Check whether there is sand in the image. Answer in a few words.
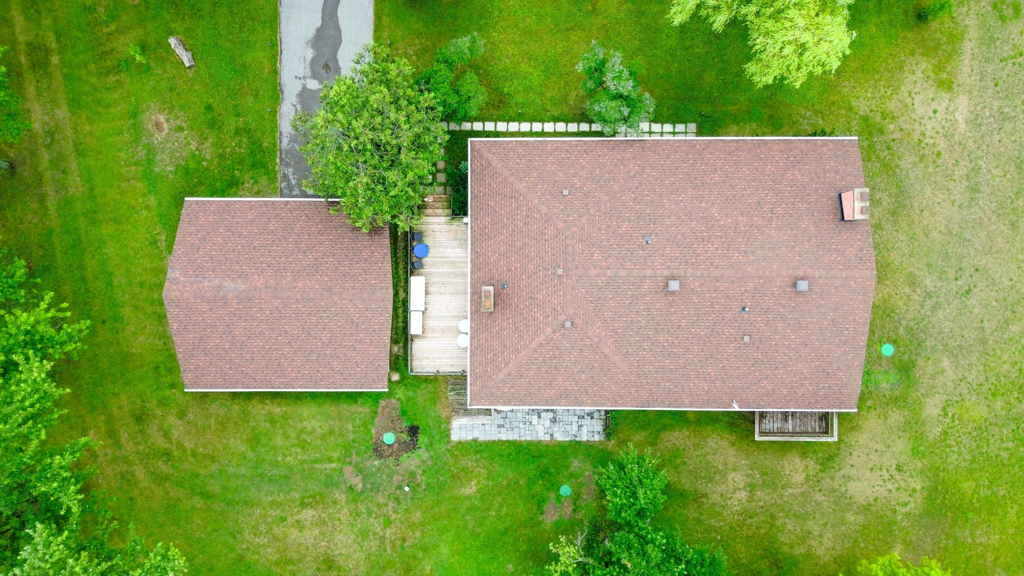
No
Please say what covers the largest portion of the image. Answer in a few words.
grass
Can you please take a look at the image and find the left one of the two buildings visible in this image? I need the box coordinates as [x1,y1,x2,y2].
[162,198,394,391]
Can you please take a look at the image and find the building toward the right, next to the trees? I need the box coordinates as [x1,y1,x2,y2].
[467,137,877,412]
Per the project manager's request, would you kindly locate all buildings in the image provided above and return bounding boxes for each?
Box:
[162,198,394,391]
[467,137,877,412]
